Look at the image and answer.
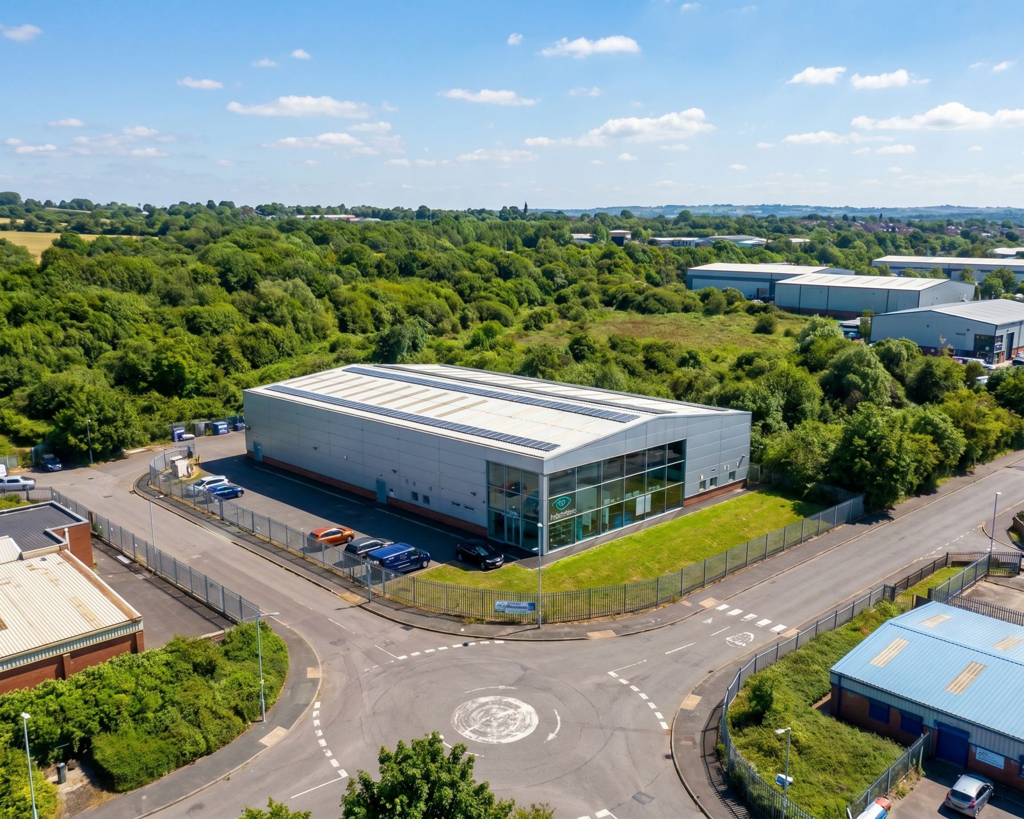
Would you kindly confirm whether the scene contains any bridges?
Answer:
No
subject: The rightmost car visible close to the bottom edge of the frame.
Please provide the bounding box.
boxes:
[934,763,1005,814]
